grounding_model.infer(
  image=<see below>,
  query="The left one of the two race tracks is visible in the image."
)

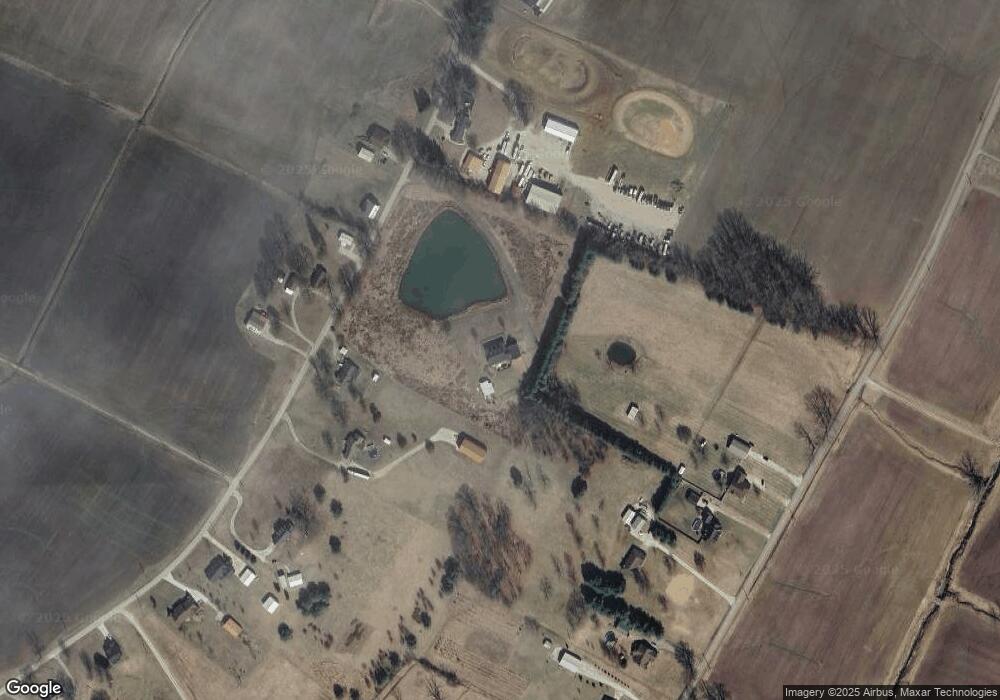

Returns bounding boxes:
[497,24,598,109]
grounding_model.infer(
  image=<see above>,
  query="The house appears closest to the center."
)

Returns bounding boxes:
[481,338,520,366]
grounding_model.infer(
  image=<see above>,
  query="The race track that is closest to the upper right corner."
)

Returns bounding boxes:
[614,89,695,161]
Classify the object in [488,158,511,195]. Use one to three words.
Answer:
barn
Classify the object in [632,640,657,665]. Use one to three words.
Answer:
house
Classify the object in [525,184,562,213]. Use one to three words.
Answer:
barn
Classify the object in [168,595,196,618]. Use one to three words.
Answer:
house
